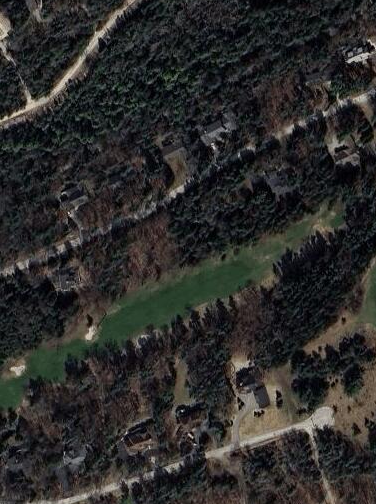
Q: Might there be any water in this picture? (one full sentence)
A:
No, no water is visible.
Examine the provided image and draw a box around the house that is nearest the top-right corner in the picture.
[346,40,376,60]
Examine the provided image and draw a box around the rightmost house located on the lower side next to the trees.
[234,370,272,407]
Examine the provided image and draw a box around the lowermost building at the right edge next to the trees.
[333,147,361,168]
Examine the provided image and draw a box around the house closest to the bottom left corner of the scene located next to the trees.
[61,443,89,470]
